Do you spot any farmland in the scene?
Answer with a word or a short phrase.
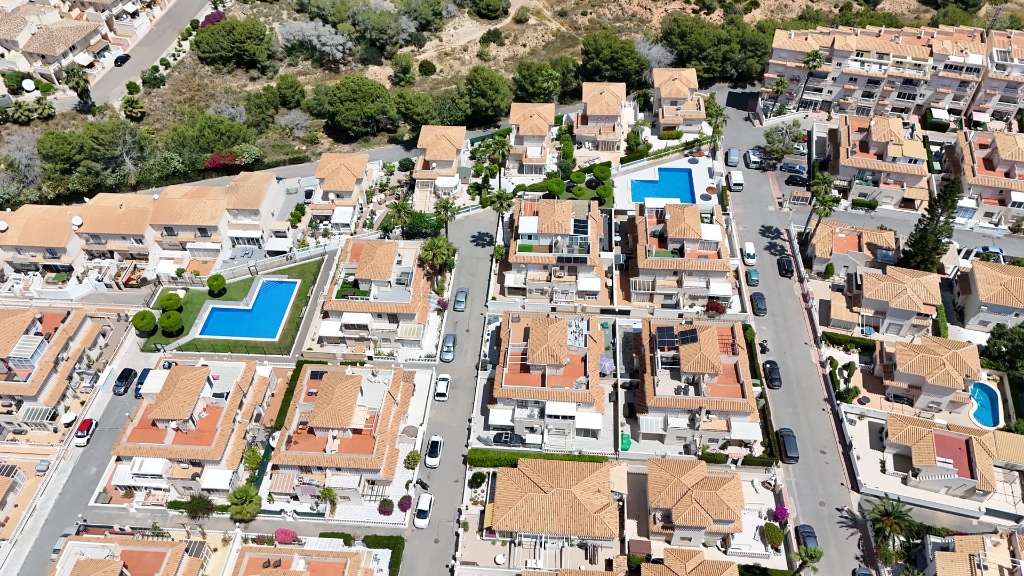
No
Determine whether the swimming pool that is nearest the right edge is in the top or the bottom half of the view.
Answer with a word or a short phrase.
bottom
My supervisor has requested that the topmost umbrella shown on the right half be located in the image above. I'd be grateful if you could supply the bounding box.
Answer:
[690,150,708,165]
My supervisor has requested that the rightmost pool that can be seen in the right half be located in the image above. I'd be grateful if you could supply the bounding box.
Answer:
[968,378,1011,432]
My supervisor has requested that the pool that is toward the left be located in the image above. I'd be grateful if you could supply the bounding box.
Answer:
[193,272,303,344]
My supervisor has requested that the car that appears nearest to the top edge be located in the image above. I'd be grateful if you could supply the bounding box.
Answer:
[110,54,134,68]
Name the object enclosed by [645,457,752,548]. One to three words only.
house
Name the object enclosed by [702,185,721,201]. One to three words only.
umbrella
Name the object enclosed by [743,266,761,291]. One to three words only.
car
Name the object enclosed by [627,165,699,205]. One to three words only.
swimming pool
